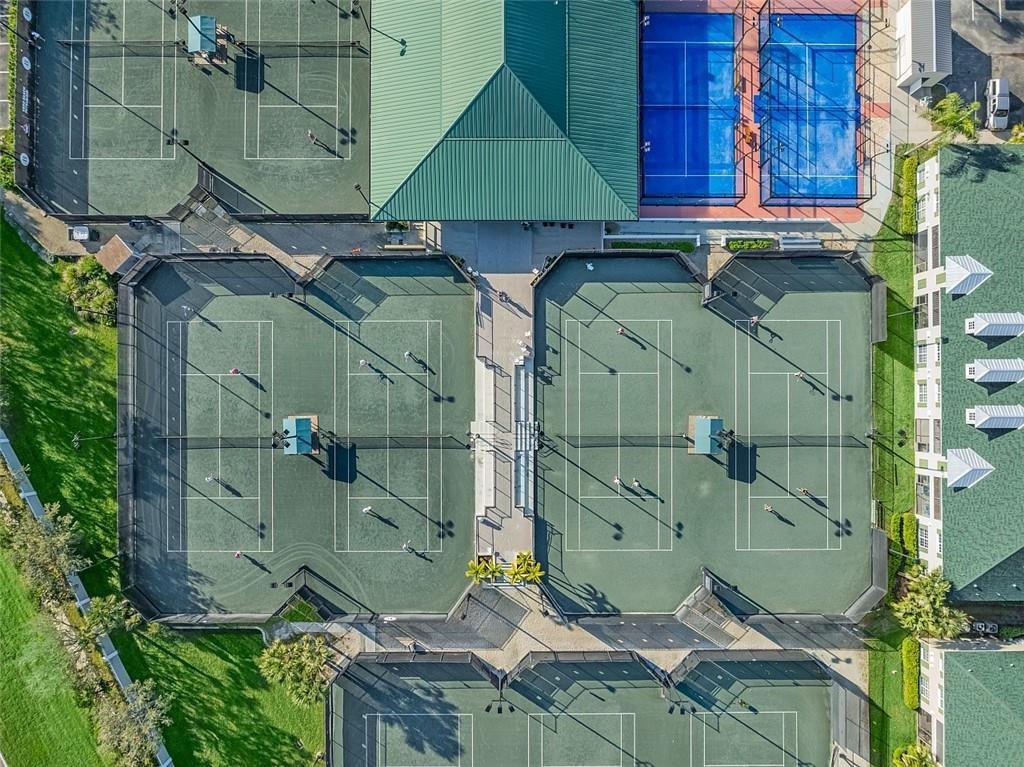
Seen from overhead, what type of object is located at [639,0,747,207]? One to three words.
sports court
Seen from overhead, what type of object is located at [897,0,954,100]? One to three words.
building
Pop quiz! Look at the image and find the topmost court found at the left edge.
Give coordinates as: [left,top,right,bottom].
[37,0,209,217]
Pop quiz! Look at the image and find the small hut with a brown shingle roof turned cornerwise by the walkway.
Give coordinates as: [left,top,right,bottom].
[95,234,145,276]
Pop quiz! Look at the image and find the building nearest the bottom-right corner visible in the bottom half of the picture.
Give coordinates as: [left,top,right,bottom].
[919,638,1024,767]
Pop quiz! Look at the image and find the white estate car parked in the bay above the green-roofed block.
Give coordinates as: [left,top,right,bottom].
[981,82,1009,130]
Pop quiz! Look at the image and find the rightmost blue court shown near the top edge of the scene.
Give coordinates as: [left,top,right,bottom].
[755,0,878,207]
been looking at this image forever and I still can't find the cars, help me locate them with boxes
[981,82,1009,130]
[1002,0,1024,9]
